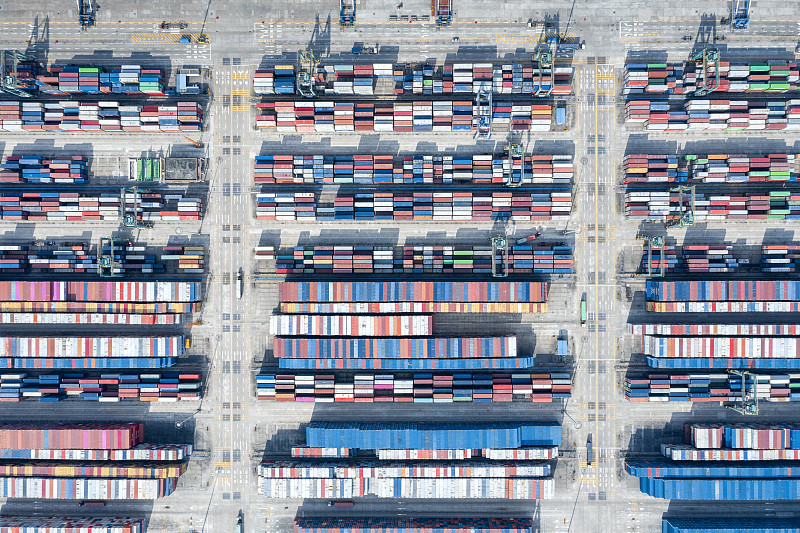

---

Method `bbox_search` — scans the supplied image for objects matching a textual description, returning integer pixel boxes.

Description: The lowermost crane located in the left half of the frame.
[97,234,132,279]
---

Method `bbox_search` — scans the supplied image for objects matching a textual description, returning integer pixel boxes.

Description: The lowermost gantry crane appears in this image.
[722,368,759,417]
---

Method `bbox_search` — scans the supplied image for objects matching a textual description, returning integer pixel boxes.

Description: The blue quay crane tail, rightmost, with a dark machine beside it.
[728,0,751,35]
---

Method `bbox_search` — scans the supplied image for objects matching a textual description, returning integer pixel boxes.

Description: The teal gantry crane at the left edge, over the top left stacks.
[0,47,40,98]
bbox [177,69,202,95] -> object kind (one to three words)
building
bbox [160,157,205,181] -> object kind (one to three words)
shed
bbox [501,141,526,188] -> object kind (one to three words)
container crane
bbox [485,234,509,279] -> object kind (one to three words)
container crane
